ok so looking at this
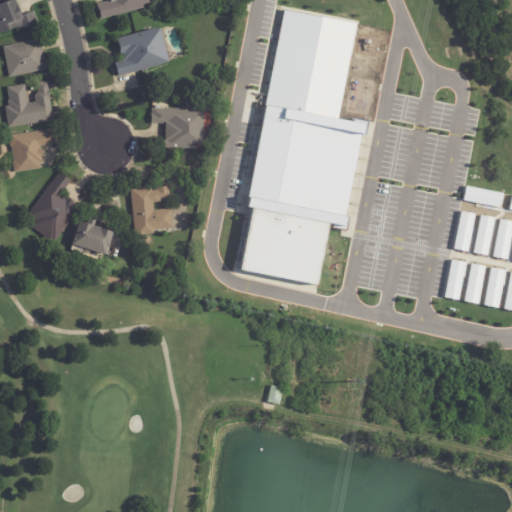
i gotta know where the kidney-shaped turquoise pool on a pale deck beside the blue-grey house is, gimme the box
[161,27,187,60]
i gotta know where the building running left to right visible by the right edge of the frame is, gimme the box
[464,186,504,208]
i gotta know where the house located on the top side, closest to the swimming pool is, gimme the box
[116,28,170,76]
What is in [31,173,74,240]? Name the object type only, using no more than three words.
house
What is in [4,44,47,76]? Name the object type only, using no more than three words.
house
